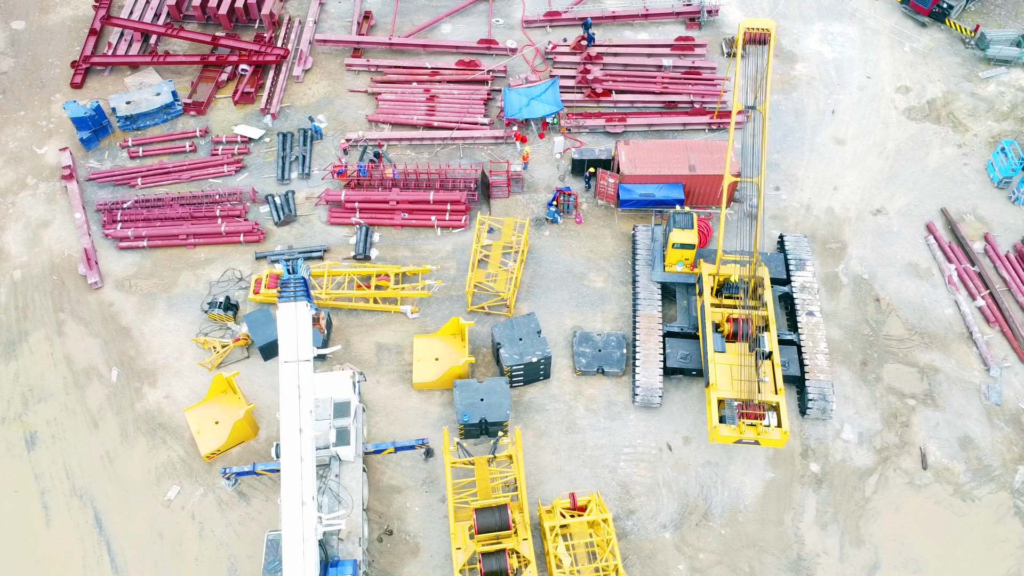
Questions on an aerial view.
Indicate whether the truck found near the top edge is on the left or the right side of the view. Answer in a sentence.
The truck found near the top edge appears in the right half of the scene.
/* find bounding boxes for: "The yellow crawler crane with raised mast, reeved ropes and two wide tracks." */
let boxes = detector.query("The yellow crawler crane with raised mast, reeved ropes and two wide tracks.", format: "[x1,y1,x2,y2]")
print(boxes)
[630,17,831,449]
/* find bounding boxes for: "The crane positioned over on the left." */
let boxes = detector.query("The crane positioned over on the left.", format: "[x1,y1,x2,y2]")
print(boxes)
[218,259,435,576]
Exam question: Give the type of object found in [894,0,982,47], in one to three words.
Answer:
truck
